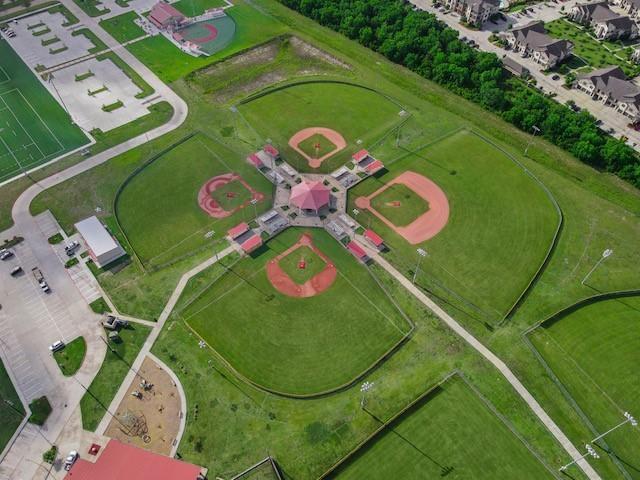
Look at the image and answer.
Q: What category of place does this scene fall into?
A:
sports ground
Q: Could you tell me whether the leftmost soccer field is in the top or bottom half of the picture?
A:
top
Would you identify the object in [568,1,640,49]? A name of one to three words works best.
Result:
building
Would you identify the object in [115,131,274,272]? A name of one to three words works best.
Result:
baseball field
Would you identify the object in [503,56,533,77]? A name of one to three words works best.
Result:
shed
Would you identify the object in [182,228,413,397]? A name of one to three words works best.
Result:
baseball field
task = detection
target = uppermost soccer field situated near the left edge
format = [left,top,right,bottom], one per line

[0,28,95,188]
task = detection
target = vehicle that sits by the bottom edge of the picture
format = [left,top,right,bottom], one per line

[61,450,75,469]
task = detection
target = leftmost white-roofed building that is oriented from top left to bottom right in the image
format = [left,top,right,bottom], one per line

[75,215,127,270]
